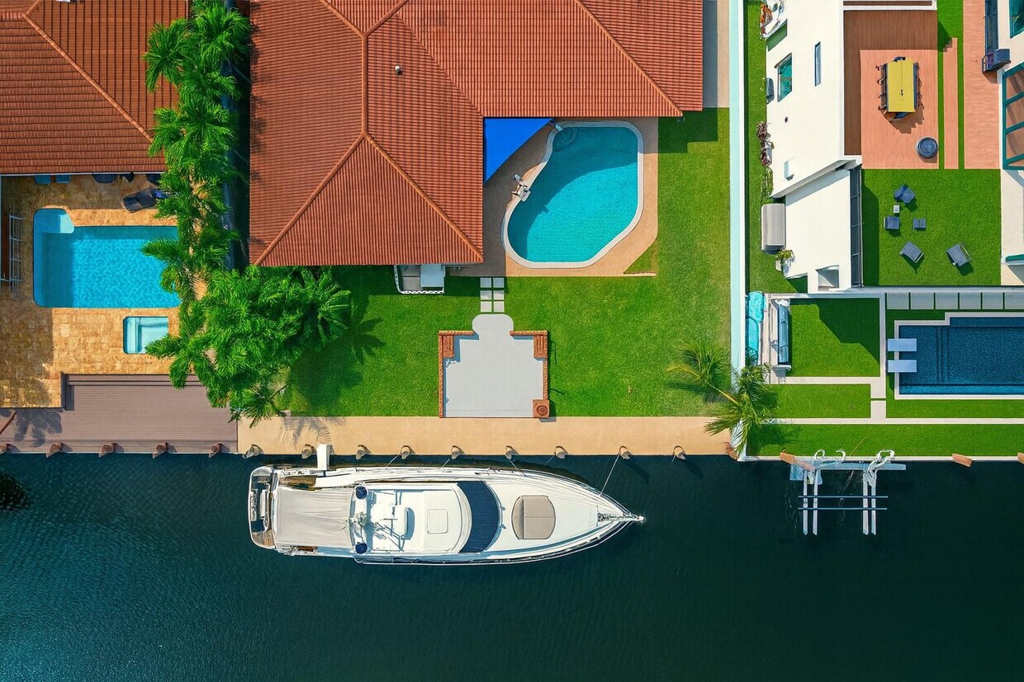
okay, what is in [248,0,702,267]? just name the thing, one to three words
house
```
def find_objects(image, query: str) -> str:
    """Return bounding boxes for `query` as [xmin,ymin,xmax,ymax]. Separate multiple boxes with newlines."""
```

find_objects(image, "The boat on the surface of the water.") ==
[248,459,644,568]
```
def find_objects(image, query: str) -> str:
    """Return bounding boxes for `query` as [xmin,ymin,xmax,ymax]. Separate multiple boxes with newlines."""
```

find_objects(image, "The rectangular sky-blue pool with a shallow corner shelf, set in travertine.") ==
[34,208,180,308]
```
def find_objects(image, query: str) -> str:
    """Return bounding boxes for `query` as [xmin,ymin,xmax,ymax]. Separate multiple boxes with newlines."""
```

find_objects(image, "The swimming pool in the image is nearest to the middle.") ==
[503,121,643,267]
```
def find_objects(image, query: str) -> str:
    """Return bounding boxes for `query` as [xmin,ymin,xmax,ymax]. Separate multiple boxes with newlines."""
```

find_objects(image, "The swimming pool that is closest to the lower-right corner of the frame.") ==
[894,312,1024,400]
